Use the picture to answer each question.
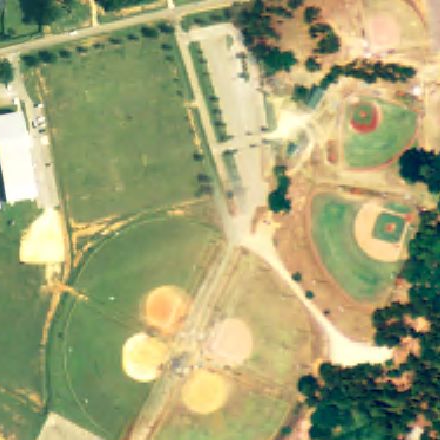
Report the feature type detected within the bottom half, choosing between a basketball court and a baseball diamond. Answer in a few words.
baseball diamond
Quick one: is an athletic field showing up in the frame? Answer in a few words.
Yes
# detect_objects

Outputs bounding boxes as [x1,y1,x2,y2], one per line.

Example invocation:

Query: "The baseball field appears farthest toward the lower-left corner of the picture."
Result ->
[64,292,174,440]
